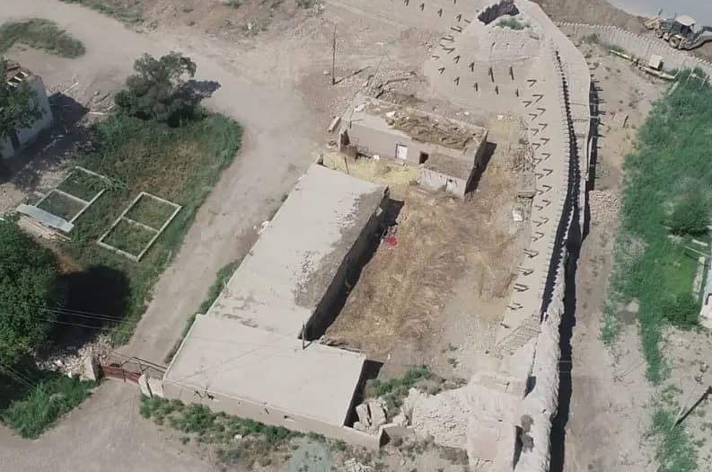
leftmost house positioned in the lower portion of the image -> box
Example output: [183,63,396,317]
[161,164,400,443]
